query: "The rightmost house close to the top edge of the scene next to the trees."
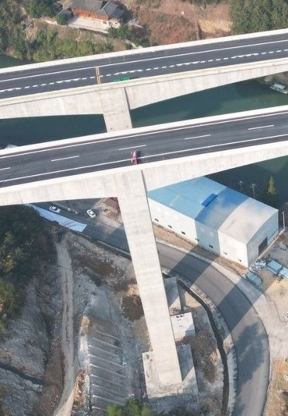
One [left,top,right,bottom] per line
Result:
[72,1,133,34]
